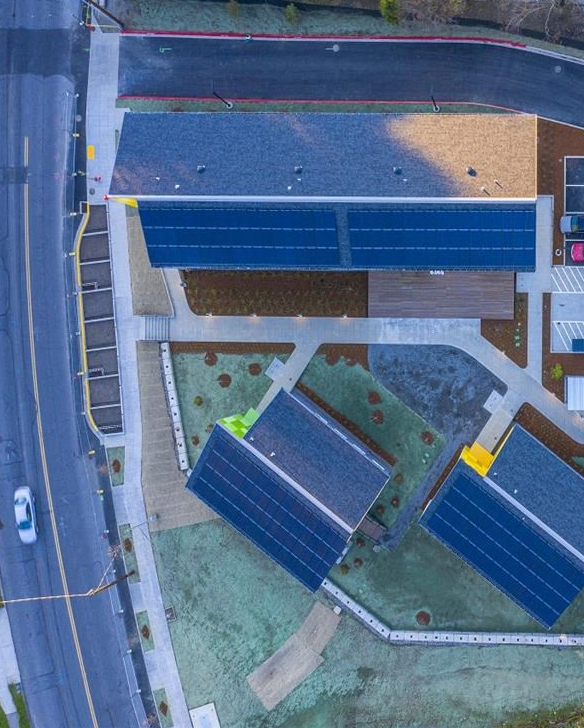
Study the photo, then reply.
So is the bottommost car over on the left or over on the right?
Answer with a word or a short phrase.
left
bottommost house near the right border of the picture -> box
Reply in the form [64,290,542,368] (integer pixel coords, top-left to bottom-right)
[418,423,584,629]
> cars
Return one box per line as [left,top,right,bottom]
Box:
[572,242,584,261]
[561,211,584,234]
[6,491,35,543]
